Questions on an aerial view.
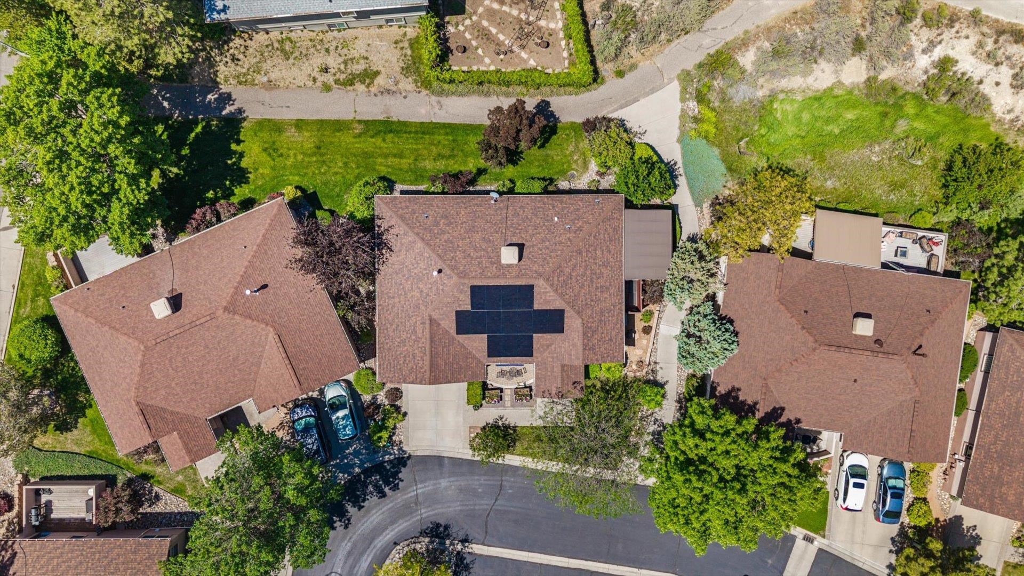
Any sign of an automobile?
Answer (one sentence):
Yes, an automobile appears in the view.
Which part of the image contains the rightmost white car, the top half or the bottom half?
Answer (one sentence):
It is in the bottom half that the rightmost white car appears.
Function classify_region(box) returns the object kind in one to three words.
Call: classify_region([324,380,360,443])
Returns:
car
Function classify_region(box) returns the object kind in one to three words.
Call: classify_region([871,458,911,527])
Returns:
car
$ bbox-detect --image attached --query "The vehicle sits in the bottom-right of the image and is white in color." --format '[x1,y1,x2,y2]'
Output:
[834,451,873,516]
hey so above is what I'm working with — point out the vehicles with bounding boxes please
[295,397,335,467]
[871,458,911,527]
[834,451,873,516]
[324,380,360,443]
